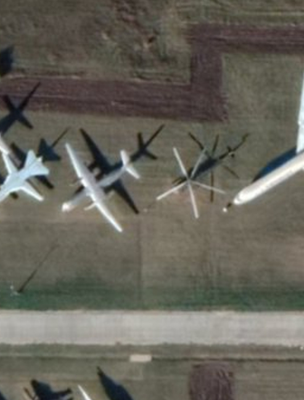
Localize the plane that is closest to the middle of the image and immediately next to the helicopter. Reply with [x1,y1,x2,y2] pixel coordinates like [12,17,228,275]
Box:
[63,144,139,231]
